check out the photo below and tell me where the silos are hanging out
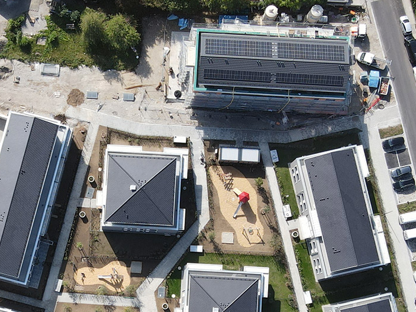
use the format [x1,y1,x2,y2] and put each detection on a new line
[258,3,277,23]
[302,4,322,26]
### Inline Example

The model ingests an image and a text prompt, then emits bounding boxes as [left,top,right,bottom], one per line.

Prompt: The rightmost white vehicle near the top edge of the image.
[397,16,412,38]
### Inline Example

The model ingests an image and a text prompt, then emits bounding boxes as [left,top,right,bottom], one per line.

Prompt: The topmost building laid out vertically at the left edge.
[0,111,75,285]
